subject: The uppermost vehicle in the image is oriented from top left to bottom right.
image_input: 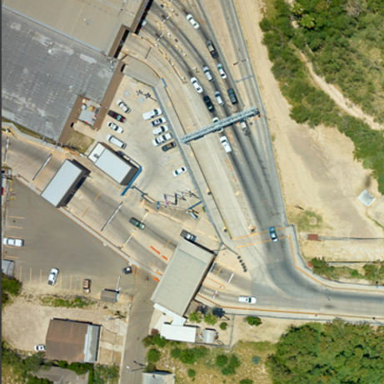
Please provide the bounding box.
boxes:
[185,12,199,29]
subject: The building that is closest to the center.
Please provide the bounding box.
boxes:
[88,143,138,184]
